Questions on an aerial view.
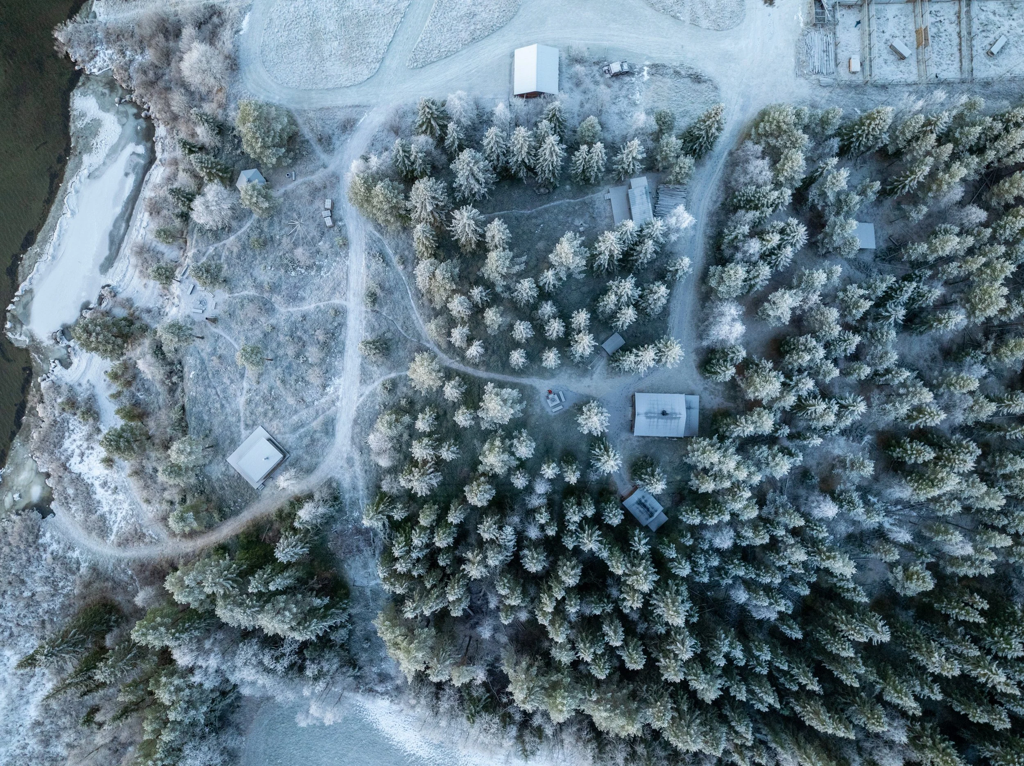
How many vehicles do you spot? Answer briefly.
1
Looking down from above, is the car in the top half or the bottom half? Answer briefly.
top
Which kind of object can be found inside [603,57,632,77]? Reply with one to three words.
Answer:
car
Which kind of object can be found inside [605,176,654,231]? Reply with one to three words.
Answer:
building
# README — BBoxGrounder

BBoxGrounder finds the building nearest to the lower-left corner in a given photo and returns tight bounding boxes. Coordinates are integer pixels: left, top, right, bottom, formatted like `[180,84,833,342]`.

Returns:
[227,425,290,493]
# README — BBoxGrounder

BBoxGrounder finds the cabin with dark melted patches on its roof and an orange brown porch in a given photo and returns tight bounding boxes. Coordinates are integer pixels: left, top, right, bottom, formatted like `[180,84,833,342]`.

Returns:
[617,481,664,527]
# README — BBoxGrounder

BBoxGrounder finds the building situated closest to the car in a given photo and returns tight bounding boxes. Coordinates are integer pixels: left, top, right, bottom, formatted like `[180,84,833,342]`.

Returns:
[514,43,559,100]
